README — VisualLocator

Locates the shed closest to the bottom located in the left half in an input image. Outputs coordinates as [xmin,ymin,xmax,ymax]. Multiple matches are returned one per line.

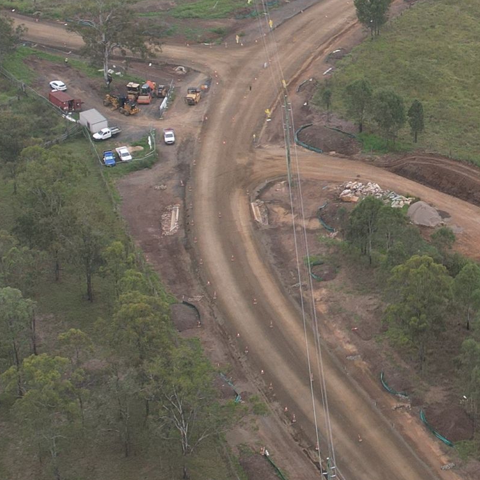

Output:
[78,109,107,134]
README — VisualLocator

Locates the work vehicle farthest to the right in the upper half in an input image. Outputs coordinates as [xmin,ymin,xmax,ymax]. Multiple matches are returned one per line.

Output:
[184,83,201,102]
